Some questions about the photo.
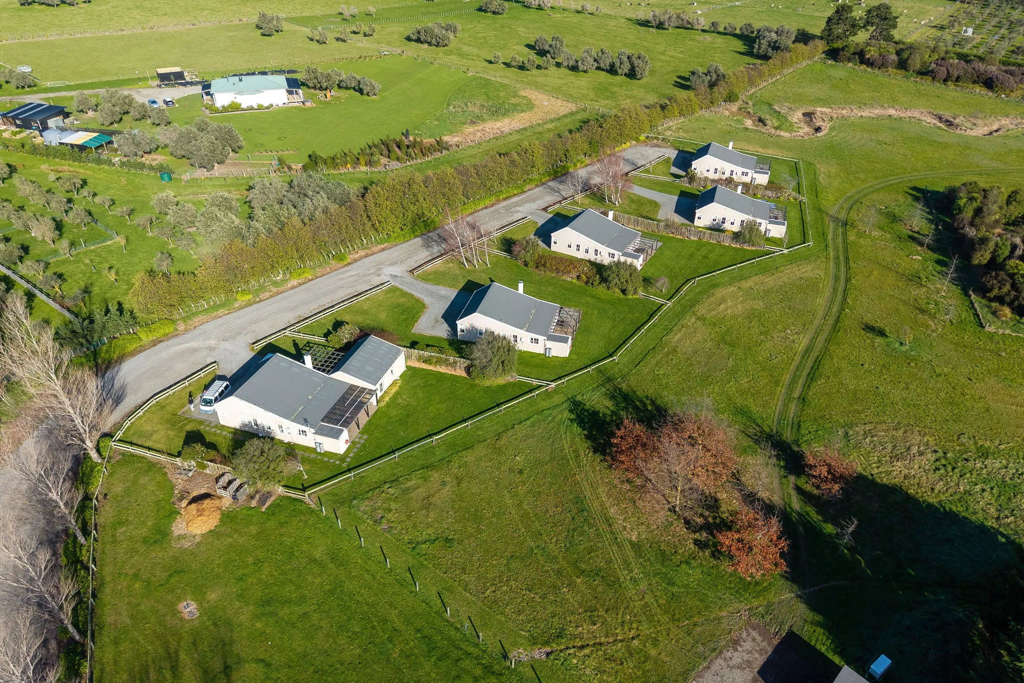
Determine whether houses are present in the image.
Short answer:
Yes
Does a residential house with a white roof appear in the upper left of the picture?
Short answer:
Yes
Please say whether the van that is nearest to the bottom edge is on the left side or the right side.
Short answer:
left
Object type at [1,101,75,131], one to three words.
shed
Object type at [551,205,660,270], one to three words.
house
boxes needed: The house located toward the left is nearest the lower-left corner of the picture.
[213,335,405,453]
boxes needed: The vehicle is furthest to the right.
[198,378,231,414]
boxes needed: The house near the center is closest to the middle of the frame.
[456,277,584,357]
